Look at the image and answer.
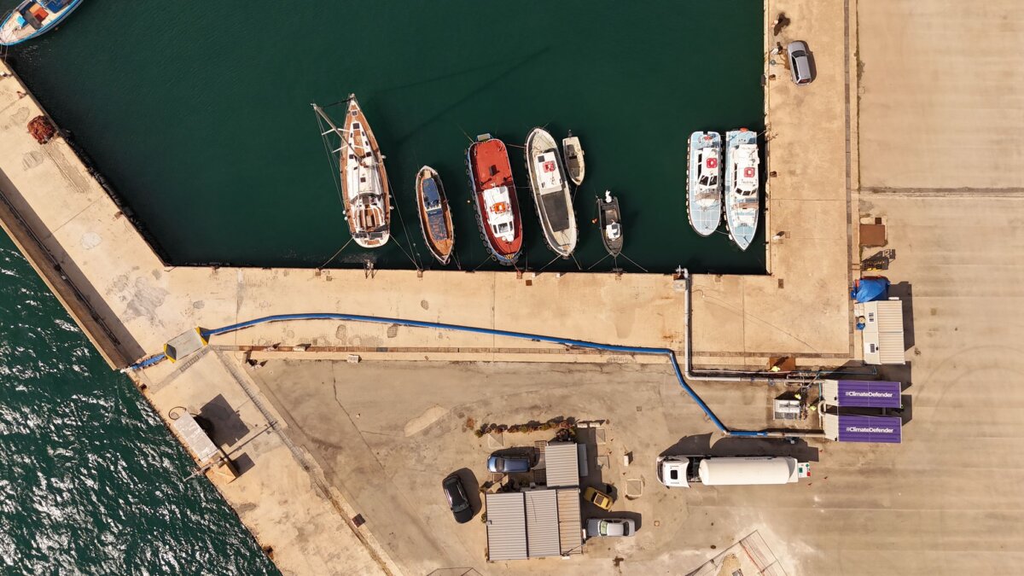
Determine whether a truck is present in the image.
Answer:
Yes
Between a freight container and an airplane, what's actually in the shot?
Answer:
freight container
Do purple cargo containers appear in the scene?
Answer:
Yes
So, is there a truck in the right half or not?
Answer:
Yes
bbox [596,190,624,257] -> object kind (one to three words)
boat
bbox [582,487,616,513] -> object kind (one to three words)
car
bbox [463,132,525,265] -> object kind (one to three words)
boat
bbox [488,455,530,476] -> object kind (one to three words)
car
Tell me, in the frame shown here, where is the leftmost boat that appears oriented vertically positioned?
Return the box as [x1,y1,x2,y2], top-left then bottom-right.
[306,91,394,247]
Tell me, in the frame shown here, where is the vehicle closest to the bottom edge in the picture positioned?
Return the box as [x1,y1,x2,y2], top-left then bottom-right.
[586,517,636,539]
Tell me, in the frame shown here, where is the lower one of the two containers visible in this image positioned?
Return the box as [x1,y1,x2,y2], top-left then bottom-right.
[825,412,902,443]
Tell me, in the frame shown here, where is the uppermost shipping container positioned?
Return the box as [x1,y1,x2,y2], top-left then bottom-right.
[825,379,902,408]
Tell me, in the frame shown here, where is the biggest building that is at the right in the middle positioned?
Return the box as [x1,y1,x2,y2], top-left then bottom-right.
[864,298,906,364]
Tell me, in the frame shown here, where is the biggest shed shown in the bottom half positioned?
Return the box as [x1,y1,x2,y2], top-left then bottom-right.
[485,441,588,562]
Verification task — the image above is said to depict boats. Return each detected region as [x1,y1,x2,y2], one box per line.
[596,190,624,257]
[306,91,394,247]
[686,131,724,237]
[562,132,585,185]
[414,165,456,264]
[463,132,525,265]
[723,128,759,252]
[522,128,581,262]
[0,0,91,47]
